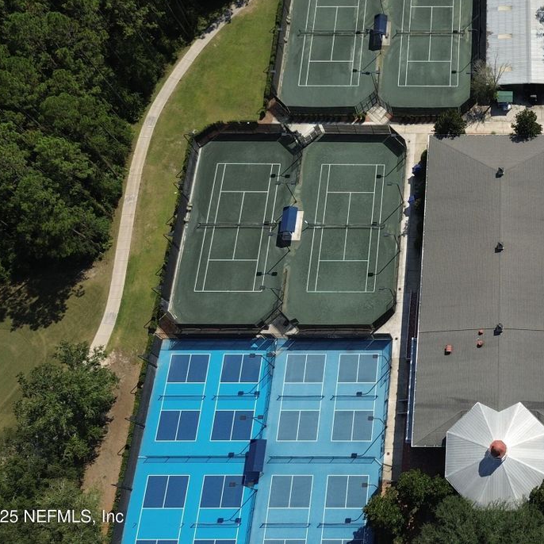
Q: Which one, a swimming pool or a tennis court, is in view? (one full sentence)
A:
I can see a tennis court in this picture.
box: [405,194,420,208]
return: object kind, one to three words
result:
umbrella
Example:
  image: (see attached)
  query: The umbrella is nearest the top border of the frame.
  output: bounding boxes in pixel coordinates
[410,164,424,177]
